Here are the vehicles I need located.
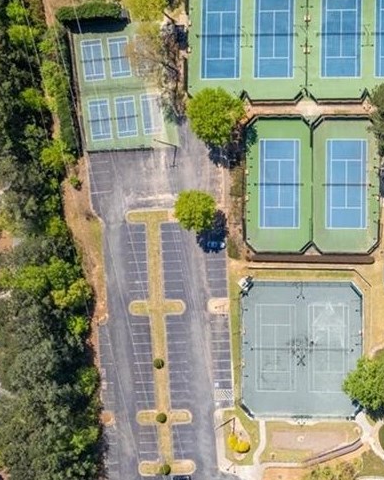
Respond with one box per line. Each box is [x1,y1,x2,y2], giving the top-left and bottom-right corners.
[208,240,226,249]
[173,474,191,480]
